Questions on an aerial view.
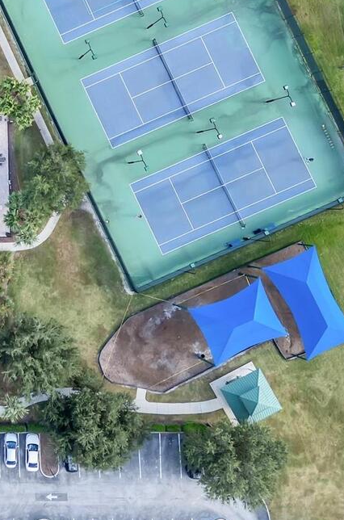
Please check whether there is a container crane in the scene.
No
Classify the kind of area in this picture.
sports ground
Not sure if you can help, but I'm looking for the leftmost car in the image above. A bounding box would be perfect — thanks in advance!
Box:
[4,433,19,467]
